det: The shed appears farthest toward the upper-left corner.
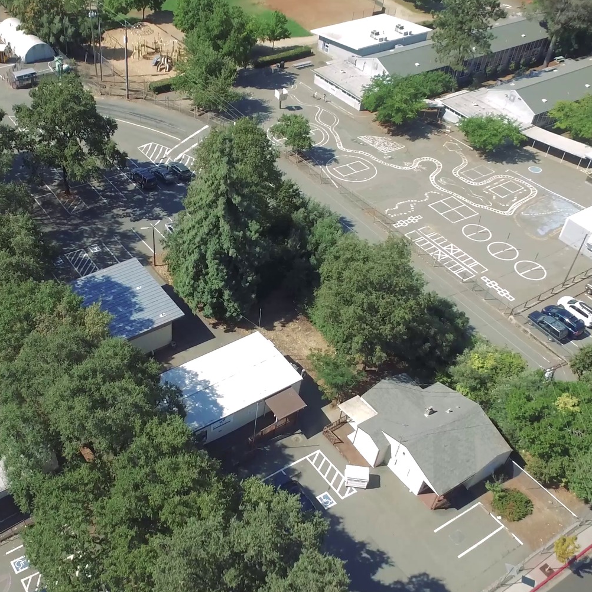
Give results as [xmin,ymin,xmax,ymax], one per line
[0,16,51,63]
